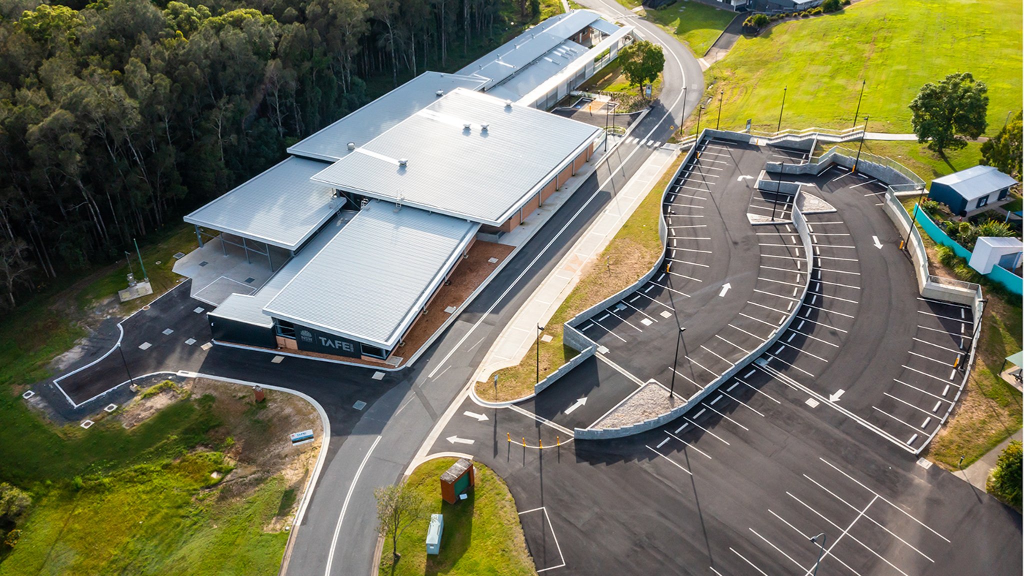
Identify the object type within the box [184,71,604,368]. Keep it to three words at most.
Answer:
building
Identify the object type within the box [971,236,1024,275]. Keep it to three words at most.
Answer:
building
